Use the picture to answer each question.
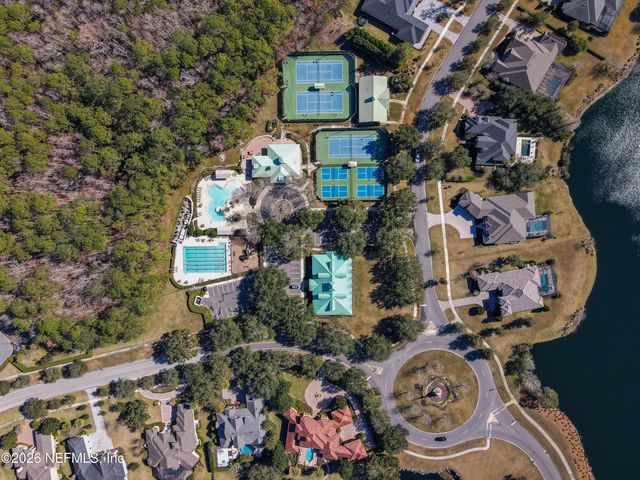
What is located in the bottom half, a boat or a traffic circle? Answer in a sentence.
There is a traffic circle in the bottom half.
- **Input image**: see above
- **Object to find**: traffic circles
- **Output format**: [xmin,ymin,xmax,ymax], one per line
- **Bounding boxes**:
[364,304,516,450]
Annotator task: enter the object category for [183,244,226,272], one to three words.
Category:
swimming pool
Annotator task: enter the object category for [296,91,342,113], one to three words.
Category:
tennis court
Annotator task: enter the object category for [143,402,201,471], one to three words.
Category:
house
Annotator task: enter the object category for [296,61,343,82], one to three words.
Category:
tennis court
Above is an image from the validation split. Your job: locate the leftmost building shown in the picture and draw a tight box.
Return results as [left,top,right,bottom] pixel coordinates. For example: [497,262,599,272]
[12,431,61,480]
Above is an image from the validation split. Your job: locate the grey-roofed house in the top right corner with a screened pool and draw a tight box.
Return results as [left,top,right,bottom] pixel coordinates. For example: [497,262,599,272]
[559,0,610,28]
